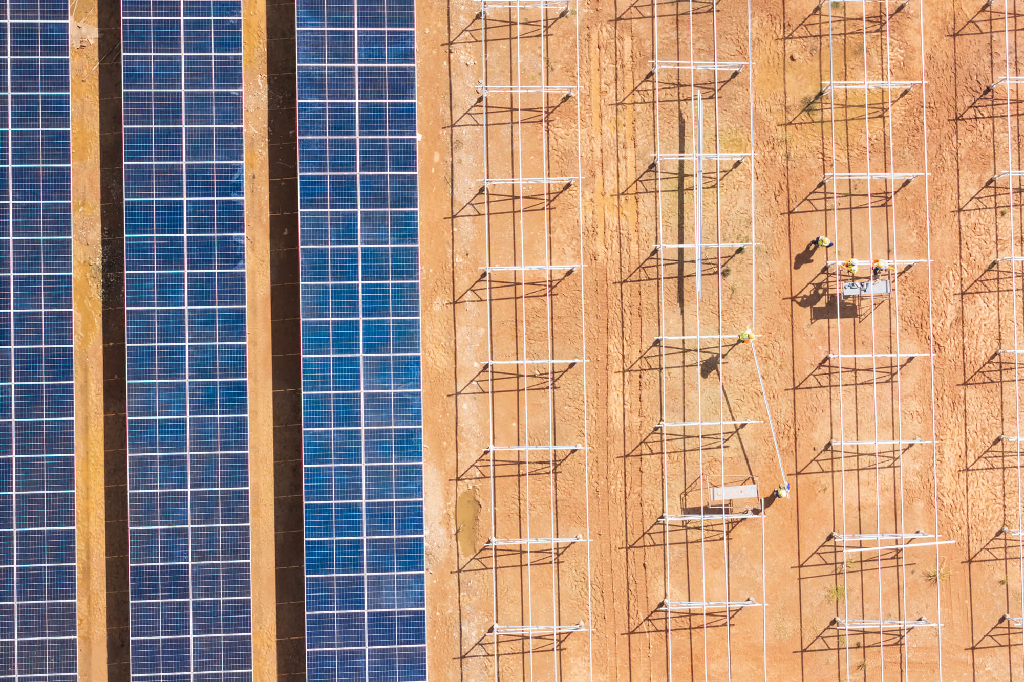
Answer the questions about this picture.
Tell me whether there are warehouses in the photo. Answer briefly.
No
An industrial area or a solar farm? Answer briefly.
solar farm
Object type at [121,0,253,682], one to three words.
solar array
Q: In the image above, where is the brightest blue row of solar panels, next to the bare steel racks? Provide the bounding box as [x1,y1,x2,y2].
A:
[295,0,427,682]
